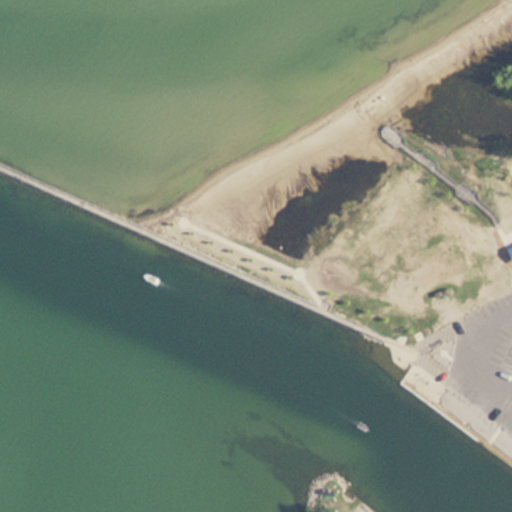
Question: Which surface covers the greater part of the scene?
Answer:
water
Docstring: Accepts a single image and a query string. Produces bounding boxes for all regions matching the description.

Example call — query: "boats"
[356,422,368,431]
[144,275,160,286]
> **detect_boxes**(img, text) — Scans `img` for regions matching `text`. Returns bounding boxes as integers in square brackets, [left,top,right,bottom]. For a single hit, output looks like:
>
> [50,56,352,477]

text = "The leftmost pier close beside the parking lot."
[0,164,405,353]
